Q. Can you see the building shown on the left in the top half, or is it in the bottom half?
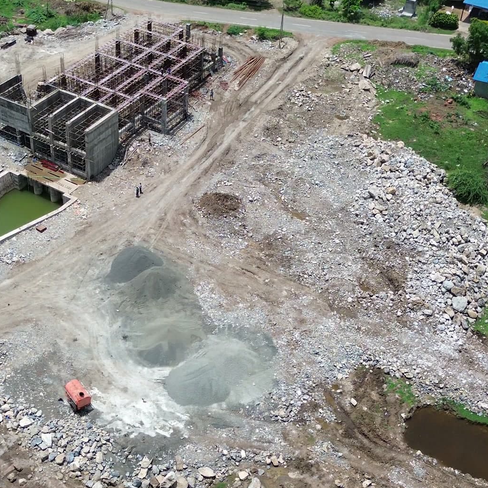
top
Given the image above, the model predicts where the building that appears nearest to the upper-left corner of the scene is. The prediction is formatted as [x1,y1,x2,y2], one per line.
[0,14,225,177]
